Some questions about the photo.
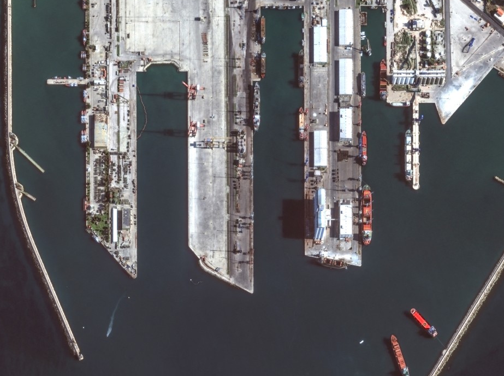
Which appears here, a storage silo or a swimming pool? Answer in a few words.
storage silo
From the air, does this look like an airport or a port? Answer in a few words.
port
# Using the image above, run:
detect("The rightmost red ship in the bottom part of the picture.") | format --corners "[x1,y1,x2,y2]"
[411,308,444,345]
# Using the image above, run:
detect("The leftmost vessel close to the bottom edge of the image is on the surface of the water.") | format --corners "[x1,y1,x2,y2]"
[390,334,409,376]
